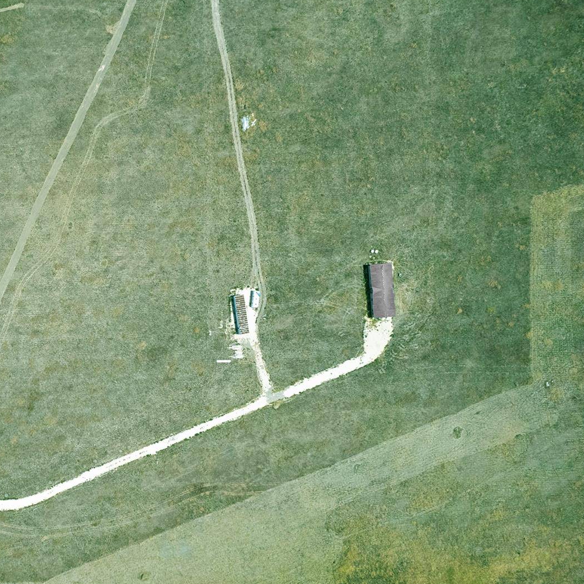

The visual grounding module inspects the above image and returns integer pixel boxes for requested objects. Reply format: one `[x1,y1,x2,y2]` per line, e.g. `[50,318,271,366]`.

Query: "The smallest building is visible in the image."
[231,294,249,334]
